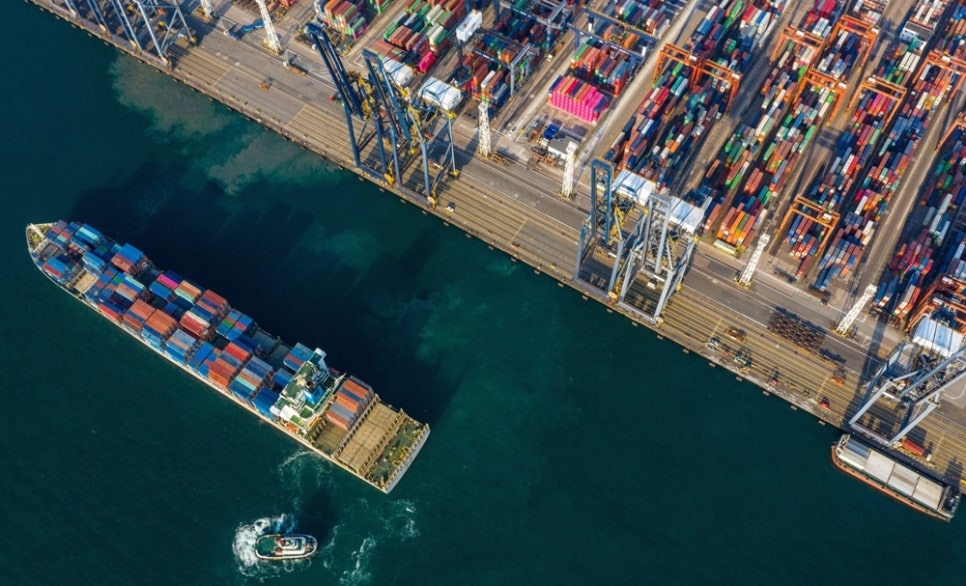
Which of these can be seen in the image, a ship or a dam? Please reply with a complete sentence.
I can see a ship in this picture.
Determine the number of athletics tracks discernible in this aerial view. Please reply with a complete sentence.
There are no athletics tracks in the image.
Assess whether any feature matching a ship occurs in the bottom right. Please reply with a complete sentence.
Yes, I can see a ship in the bottom right.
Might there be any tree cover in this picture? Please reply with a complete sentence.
No, there is no tree cover in the image.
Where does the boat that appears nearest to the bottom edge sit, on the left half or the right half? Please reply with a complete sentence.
The boat that appears nearest to the bottom edge appears in the left half of the scene.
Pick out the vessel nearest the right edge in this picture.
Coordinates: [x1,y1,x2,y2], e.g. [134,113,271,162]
[828,433,961,525]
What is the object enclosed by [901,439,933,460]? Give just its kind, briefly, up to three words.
truck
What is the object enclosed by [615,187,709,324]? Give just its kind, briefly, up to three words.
container crane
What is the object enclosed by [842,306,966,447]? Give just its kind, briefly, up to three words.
container crane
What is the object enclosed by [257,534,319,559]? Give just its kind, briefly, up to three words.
boat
